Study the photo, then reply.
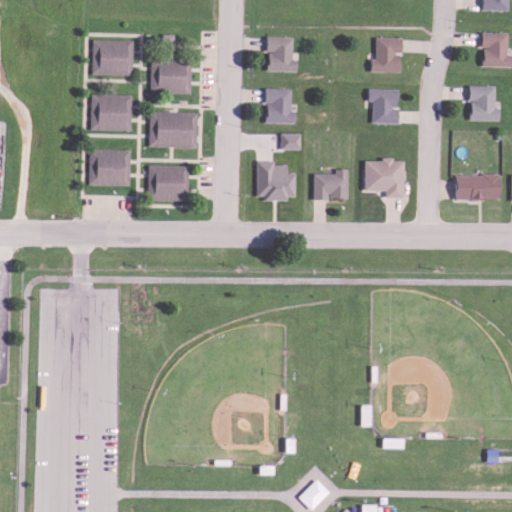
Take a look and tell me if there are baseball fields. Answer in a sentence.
Yes, a baseball field can be made out from above.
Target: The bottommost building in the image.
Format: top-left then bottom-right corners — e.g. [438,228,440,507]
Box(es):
[299,480,328,510]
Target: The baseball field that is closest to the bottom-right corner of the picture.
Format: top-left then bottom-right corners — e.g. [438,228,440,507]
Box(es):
[370,288,512,440]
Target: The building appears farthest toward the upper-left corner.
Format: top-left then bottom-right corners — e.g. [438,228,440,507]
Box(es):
[92,40,134,76]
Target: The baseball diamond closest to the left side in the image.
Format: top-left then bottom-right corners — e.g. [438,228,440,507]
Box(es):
[144,323,288,467]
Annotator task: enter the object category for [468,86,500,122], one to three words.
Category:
house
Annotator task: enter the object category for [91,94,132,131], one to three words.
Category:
building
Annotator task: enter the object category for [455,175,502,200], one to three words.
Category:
house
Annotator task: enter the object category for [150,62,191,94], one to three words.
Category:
building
